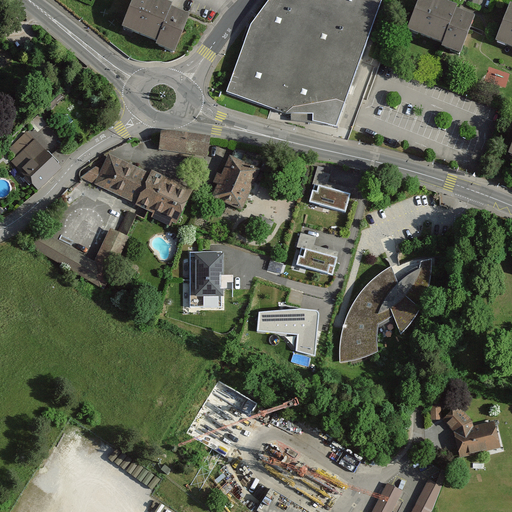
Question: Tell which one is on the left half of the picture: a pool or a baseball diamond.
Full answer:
Looking on the left half of the picture, you will find a pool.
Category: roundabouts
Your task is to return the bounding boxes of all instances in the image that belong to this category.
[106,52,222,138]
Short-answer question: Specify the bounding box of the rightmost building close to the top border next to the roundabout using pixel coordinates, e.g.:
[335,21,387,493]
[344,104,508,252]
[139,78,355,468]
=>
[227,0,376,128]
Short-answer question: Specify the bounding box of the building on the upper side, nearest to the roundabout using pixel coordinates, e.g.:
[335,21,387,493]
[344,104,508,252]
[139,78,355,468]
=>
[159,130,210,157]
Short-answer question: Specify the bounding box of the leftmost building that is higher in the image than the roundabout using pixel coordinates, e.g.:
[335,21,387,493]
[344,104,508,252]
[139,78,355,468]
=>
[122,0,172,44]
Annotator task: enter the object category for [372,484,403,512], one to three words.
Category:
barn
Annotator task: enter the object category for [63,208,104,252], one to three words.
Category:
sports court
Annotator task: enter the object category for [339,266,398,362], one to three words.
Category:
building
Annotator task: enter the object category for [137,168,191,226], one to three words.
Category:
house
